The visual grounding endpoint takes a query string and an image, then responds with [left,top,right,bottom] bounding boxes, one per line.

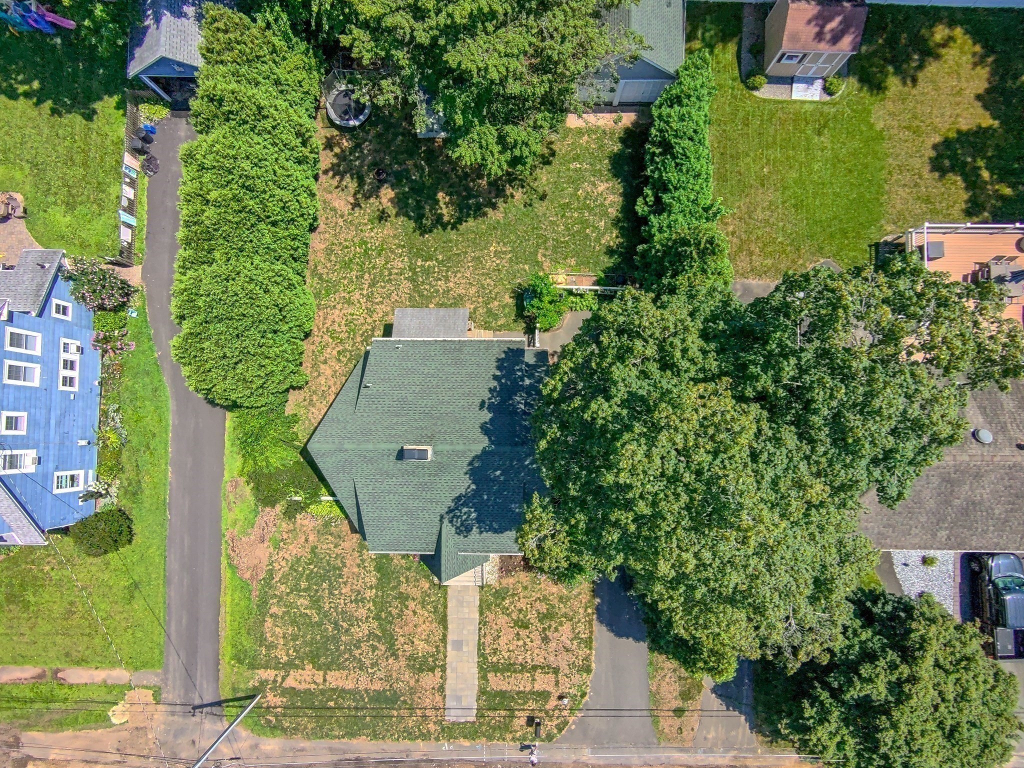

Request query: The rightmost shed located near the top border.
[765,0,862,74]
